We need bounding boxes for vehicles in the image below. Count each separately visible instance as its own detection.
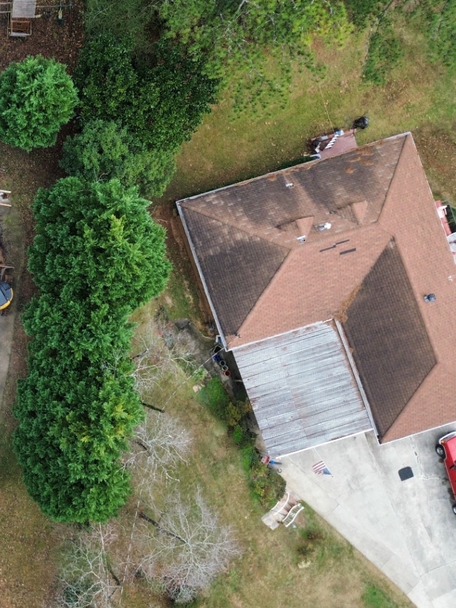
[0,265,14,318]
[434,426,456,496]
